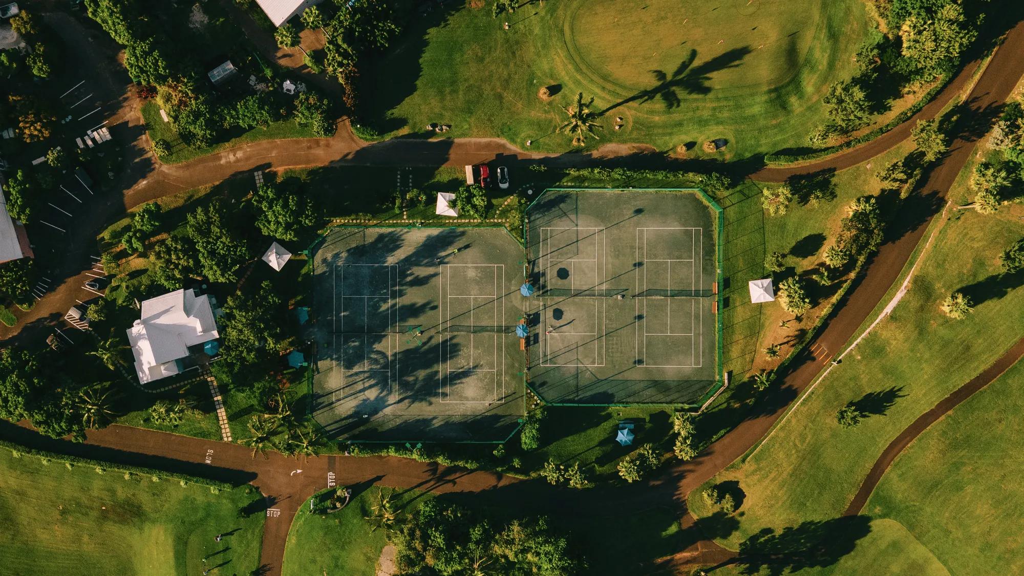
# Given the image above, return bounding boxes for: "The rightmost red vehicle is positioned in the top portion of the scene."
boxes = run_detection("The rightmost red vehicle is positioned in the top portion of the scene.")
[479,164,491,188]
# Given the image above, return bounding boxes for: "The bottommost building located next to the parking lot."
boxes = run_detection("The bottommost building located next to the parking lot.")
[126,289,223,384]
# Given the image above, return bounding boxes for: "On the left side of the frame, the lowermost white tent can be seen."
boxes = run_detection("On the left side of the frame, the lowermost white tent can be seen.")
[263,243,296,272]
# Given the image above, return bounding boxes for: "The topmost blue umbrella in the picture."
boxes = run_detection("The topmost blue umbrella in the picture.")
[520,282,534,296]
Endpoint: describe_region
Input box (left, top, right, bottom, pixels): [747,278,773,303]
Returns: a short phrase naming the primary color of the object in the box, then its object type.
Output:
white tent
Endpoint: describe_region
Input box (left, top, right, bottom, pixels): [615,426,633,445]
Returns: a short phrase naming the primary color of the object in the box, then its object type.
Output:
blue umbrella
